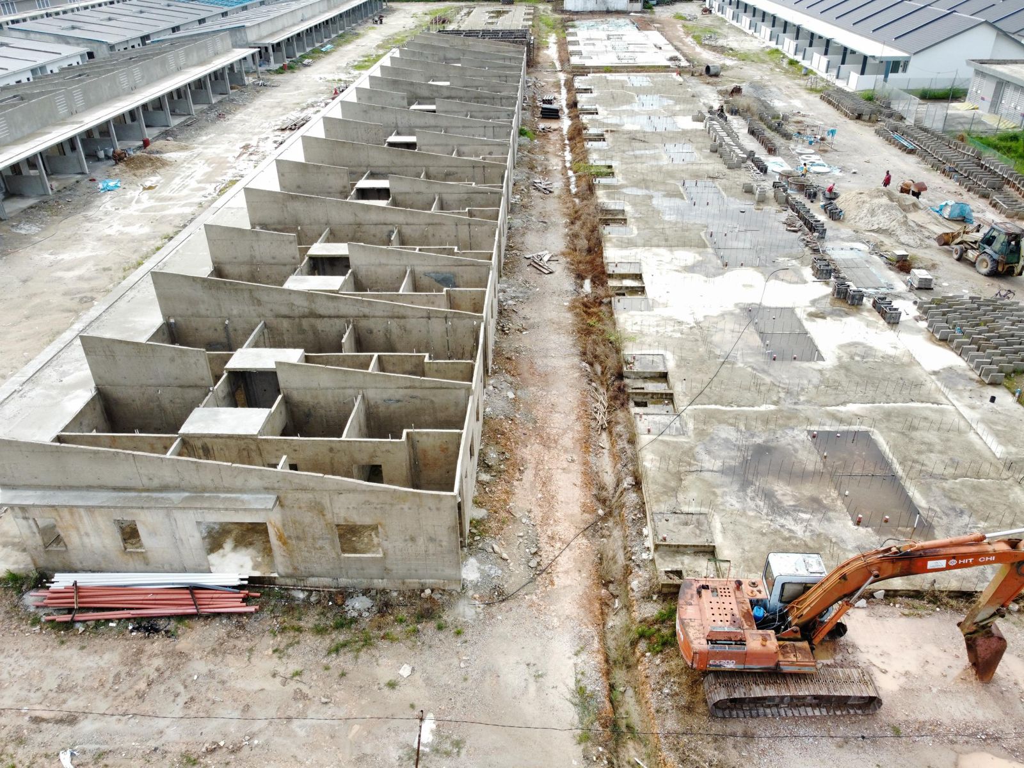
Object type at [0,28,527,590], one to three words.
building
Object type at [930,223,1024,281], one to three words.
work vehicle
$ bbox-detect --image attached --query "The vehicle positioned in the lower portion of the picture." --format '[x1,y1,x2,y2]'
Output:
[671,522,1024,720]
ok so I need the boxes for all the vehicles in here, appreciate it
[671,522,1024,720]
[930,223,1024,281]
